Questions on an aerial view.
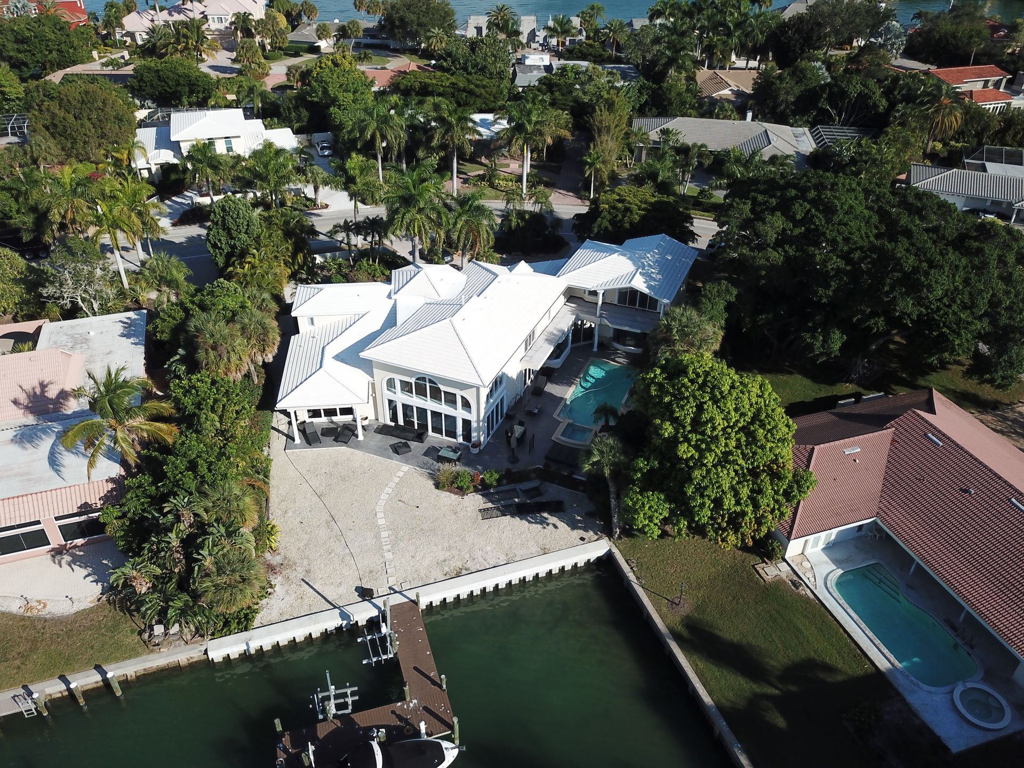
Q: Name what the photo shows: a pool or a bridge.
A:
pool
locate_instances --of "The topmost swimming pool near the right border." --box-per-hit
[828,558,985,694]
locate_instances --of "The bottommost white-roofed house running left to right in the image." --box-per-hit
[275,233,699,449]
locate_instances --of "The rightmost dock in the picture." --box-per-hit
[276,601,464,768]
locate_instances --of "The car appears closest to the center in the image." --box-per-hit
[424,241,459,263]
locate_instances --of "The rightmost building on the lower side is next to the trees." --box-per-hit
[741,387,1024,708]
